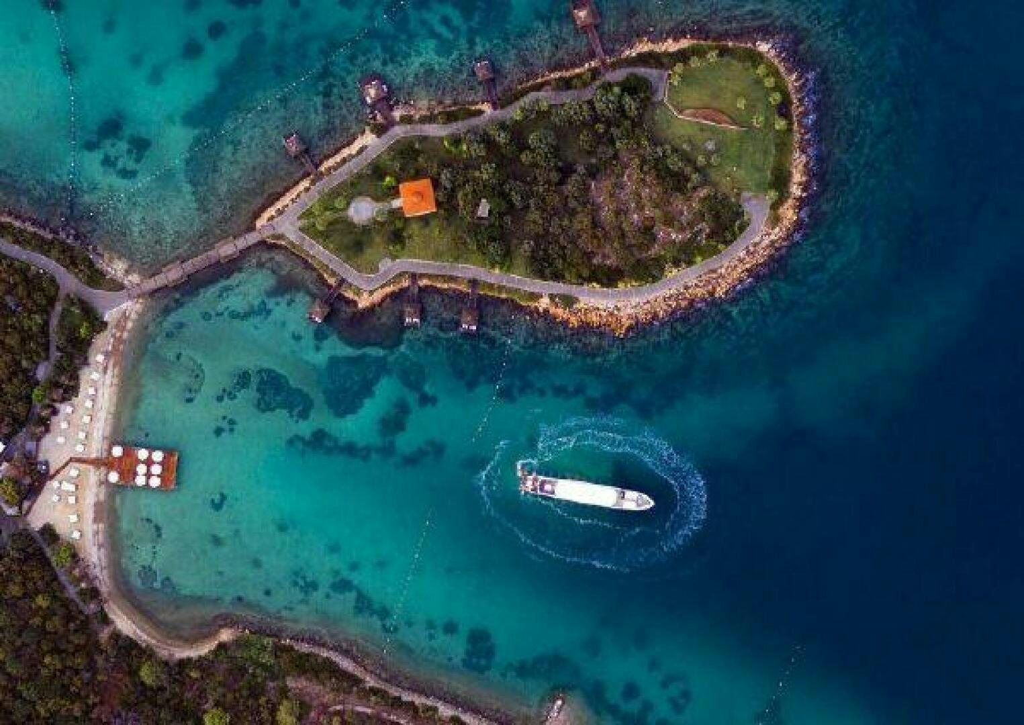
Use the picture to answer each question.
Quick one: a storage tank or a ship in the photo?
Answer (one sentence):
I can see a ship in this picture.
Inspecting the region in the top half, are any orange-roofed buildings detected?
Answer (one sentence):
Yes, an orange-roofed building appears in the top half.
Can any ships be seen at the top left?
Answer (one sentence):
No, I see no ship at the top left.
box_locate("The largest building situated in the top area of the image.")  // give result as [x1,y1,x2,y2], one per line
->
[397,178,437,218]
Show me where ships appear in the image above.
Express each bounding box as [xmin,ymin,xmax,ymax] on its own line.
[517,453,655,511]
